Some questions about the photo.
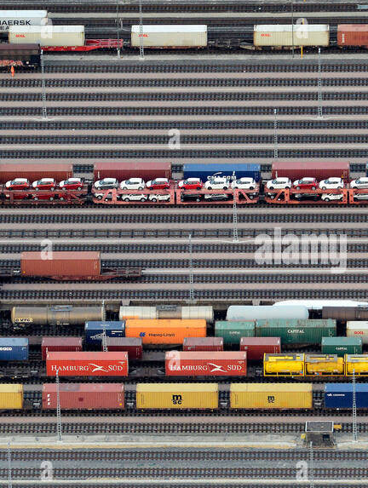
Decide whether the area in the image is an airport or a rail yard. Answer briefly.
rail yard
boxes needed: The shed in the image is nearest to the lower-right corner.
[305,421,336,449]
